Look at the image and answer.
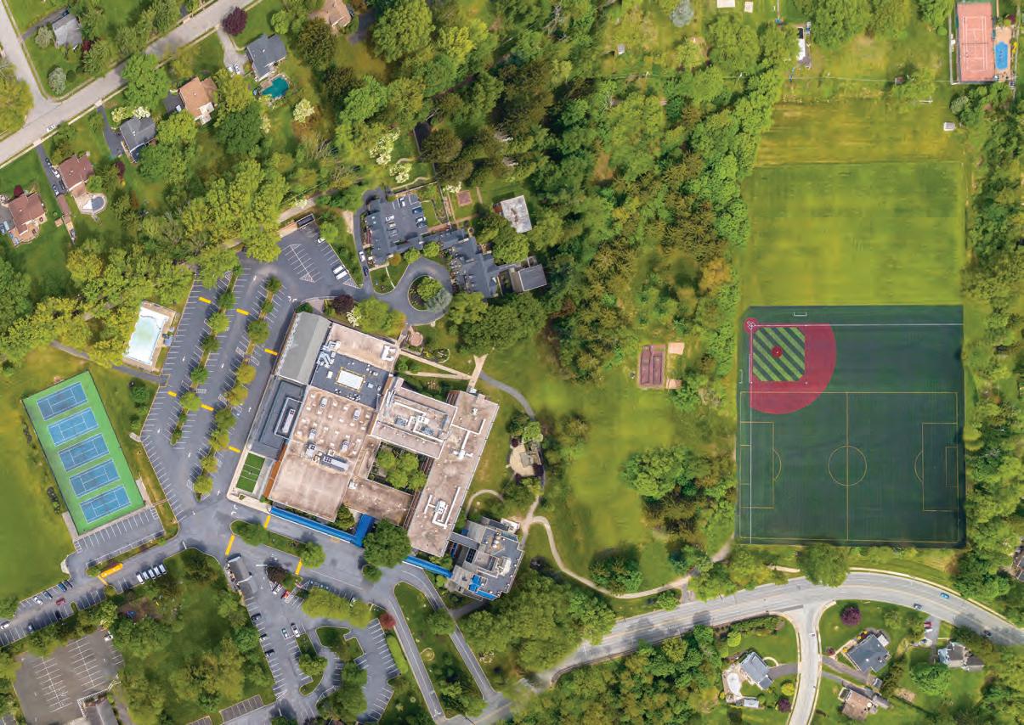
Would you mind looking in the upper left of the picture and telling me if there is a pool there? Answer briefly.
Yes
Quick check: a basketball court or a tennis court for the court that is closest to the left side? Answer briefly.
tennis court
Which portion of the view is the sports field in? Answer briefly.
right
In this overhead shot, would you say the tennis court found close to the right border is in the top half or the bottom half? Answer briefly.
top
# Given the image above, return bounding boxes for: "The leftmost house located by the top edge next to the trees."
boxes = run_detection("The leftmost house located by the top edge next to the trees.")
[52,16,83,47]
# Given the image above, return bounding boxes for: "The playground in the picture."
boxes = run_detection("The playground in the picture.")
[510,439,543,479]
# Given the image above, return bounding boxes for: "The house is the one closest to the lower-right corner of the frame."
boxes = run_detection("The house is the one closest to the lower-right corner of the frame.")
[938,641,984,671]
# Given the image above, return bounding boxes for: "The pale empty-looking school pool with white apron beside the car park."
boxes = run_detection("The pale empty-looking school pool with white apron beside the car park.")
[125,304,176,373]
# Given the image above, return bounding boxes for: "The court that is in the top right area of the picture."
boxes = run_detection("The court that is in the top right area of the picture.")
[957,0,996,81]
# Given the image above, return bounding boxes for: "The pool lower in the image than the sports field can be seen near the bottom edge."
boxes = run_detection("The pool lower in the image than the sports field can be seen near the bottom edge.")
[723,664,753,704]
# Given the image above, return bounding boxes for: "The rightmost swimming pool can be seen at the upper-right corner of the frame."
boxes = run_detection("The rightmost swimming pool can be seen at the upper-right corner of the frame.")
[995,26,1011,81]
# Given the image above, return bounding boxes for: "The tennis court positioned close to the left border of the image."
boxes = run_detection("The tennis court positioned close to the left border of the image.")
[23,372,143,535]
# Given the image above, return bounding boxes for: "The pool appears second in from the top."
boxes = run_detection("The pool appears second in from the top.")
[260,73,292,100]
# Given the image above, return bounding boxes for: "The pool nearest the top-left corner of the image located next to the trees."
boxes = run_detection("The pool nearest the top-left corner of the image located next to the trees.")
[71,192,107,214]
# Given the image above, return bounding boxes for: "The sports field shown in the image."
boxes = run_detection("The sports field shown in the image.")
[736,305,965,548]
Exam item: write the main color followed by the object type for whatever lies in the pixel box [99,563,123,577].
yellow vehicle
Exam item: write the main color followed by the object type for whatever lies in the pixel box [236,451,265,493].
green sports court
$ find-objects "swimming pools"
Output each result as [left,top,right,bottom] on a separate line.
[260,73,292,100]
[125,304,176,373]
[995,26,1011,81]
[723,664,753,704]
[71,192,107,214]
